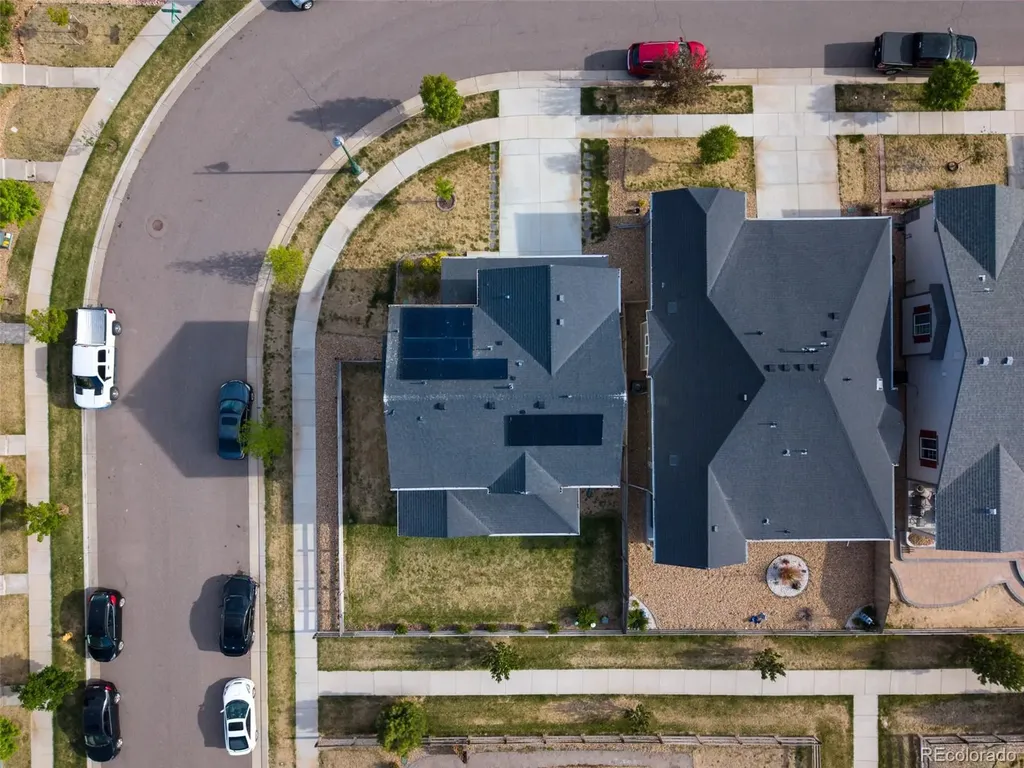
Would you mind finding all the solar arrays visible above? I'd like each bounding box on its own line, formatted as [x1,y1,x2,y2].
[508,415,603,447]
[399,307,508,379]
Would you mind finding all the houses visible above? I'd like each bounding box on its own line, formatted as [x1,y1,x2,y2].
[903,183,1024,552]
[385,256,625,539]
[641,187,904,570]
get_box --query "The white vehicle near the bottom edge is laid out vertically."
[216,677,255,755]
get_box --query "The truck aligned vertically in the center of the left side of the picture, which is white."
[72,306,120,409]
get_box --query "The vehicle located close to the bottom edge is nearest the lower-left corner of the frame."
[79,681,122,759]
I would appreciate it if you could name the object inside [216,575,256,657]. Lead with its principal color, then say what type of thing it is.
black car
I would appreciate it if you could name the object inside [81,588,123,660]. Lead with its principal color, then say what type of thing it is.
black car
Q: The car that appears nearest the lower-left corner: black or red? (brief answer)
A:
black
